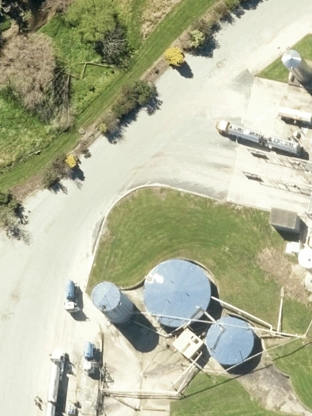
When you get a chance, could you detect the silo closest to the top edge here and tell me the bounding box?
[283,50,312,86]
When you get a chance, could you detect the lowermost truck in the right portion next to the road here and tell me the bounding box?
[216,118,307,159]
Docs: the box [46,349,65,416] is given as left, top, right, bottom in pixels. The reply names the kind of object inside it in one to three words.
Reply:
vehicle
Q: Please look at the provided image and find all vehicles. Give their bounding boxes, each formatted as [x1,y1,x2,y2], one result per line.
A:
[216,118,307,159]
[66,280,80,312]
[46,349,65,416]
[67,403,81,416]
[86,340,99,374]
[279,110,312,127]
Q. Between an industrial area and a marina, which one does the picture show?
industrial area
